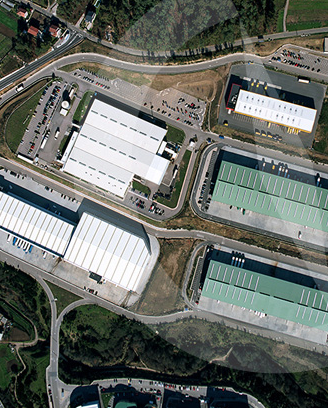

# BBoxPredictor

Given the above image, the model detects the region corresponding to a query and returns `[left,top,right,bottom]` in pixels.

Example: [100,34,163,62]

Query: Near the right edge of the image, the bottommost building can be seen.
[201,259,328,334]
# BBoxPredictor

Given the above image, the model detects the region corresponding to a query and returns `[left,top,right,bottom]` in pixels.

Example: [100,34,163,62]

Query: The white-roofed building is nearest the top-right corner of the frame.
[225,83,317,133]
